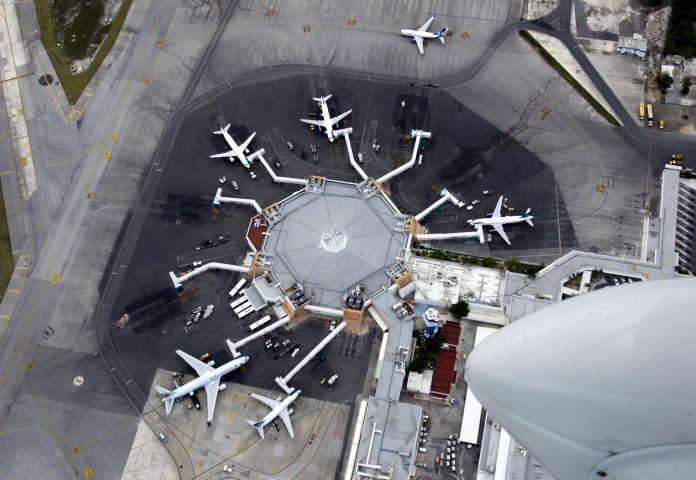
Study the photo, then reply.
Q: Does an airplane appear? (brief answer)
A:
Yes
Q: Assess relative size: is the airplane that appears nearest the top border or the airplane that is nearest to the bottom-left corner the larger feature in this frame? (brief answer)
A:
the airplane that is nearest to the bottom-left corner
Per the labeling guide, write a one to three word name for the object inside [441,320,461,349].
shed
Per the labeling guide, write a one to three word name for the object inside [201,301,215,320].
vehicle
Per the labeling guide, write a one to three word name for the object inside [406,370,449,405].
shed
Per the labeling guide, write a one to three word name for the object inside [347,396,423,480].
building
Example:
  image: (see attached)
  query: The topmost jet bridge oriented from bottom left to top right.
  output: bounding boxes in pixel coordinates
[376,130,431,185]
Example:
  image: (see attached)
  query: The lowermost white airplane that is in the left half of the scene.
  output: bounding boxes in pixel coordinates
[250,390,302,438]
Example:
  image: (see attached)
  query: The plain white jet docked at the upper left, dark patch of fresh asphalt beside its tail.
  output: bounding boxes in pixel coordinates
[205,121,256,167]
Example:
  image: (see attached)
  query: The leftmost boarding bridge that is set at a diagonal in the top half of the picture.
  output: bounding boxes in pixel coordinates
[246,150,302,188]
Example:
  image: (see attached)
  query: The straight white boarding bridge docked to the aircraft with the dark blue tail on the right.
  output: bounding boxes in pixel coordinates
[414,223,485,245]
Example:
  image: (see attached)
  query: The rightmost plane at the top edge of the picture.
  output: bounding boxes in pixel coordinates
[398,14,447,52]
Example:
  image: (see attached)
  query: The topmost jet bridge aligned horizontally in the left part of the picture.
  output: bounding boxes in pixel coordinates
[213,188,263,213]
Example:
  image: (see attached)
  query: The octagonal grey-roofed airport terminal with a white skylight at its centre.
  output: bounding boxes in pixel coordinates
[246,174,420,328]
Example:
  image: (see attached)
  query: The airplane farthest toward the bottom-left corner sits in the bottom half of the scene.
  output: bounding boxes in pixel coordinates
[156,347,249,418]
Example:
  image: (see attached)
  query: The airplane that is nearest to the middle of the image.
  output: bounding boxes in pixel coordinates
[298,92,352,142]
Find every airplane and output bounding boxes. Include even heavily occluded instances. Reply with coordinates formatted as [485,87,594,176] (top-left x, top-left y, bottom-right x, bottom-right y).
[156,347,249,418]
[470,196,534,243]
[250,390,302,438]
[205,121,256,167]
[466,279,696,480]
[398,14,447,52]
[298,92,352,142]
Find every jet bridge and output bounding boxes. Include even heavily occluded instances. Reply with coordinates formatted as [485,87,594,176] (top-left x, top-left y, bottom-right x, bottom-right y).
[376,130,431,185]
[414,223,485,245]
[332,128,366,180]
[274,322,347,396]
[413,186,462,220]
[226,315,290,360]
[246,150,302,188]
[213,188,263,213]
[169,262,249,292]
